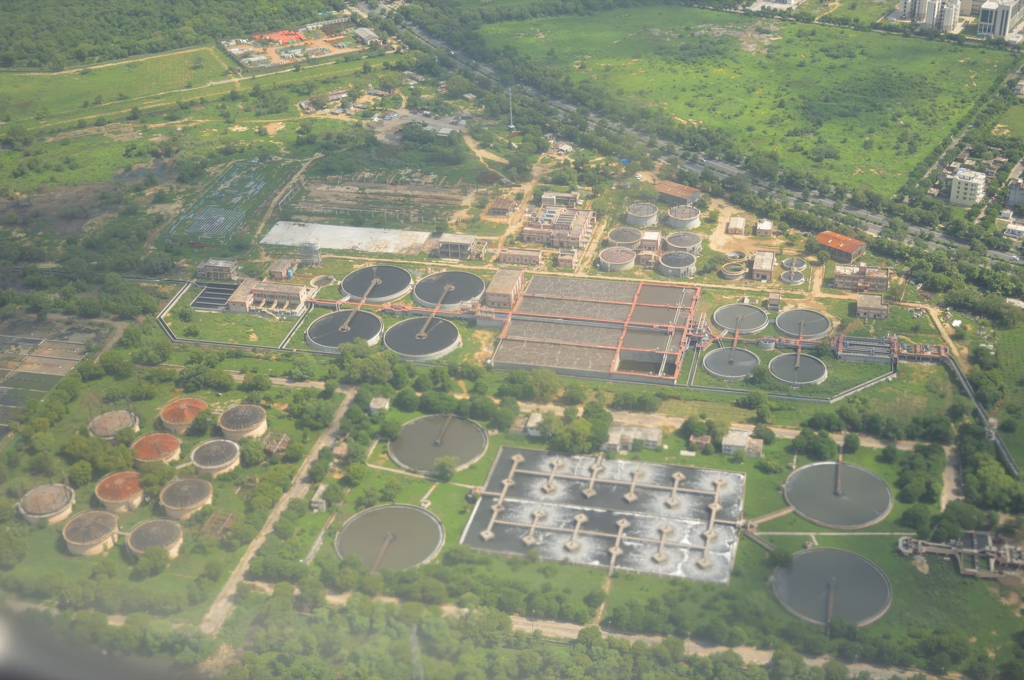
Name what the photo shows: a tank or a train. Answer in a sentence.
This aerial view contains a tank.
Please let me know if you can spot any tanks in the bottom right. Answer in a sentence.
Yes, the scene does show a tank in the bottom right.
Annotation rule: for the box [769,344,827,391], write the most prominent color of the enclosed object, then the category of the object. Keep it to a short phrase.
gray storage tank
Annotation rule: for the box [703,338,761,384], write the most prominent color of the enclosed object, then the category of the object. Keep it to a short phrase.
gray storage tank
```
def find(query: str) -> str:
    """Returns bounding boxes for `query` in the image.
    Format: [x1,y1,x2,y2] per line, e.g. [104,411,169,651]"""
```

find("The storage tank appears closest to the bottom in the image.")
[771,547,893,636]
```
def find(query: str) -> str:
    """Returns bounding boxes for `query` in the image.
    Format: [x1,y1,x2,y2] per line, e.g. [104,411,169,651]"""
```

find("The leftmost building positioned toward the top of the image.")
[196,257,239,281]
